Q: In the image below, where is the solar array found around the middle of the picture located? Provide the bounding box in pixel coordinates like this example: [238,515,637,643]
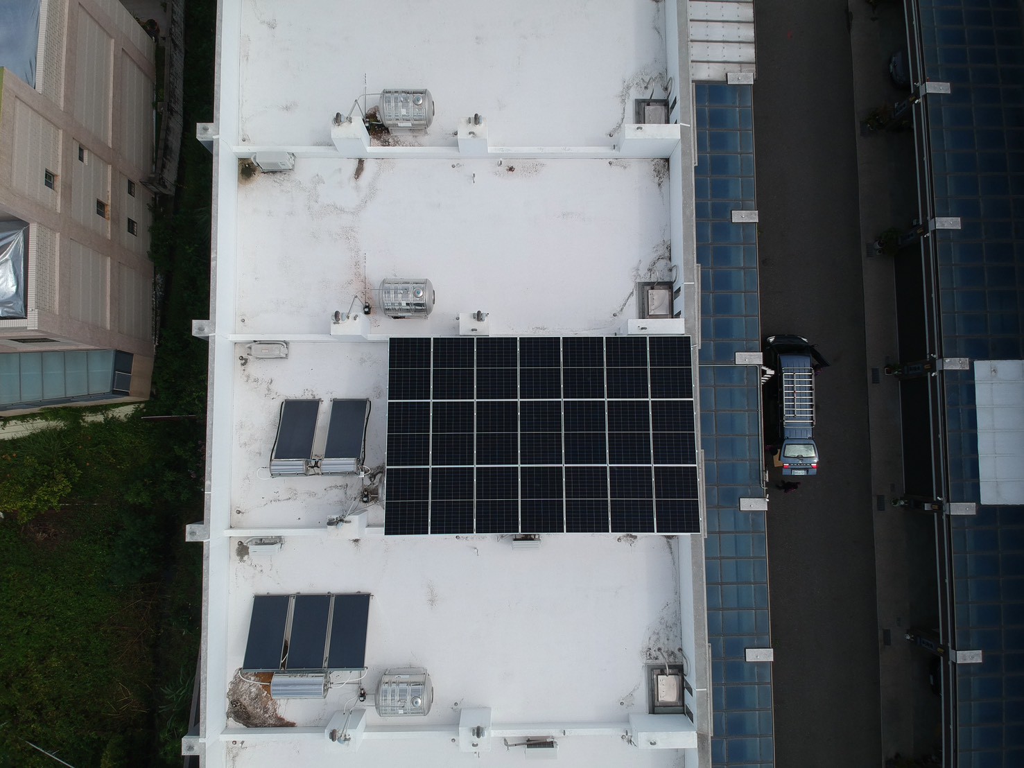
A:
[384,337,702,534]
